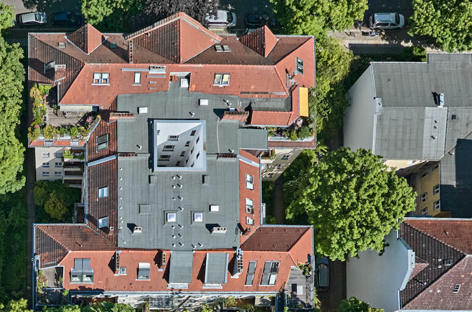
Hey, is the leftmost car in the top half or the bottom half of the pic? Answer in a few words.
top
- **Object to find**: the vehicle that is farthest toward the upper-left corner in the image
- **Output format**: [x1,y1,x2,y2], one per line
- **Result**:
[16,8,48,28]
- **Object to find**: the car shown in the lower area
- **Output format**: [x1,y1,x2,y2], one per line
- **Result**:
[315,256,333,294]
